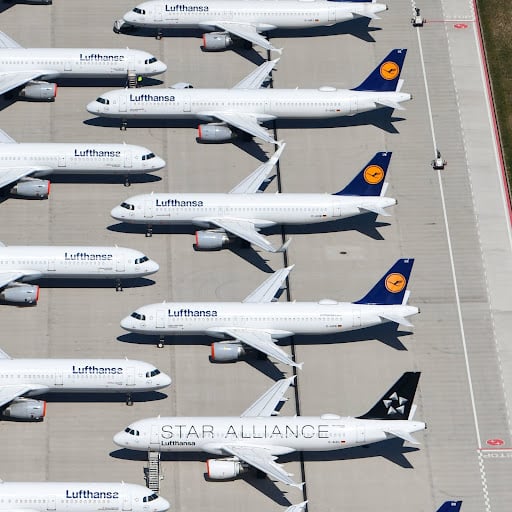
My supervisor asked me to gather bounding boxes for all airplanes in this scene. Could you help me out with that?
[0,474,170,512]
[124,0,388,54]
[87,48,412,146]
[0,28,166,99]
[110,142,397,252]
[0,346,172,418]
[0,240,160,302]
[120,260,420,370]
[0,124,166,194]
[114,372,426,490]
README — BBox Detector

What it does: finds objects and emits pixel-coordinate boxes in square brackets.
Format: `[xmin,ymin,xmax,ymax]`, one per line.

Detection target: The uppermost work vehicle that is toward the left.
[114,20,139,33]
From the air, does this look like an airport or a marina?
airport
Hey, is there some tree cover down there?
No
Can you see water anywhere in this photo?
No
